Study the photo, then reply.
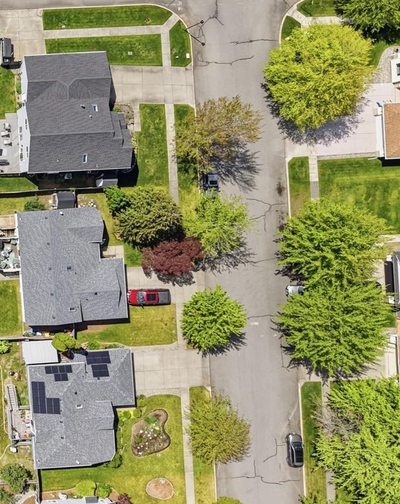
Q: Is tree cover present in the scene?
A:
Yes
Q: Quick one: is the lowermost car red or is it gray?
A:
gray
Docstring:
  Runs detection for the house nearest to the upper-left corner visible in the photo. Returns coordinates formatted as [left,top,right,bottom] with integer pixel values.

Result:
[18,50,134,173]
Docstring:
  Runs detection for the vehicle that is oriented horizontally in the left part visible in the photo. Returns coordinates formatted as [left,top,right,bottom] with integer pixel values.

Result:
[129,288,173,307]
